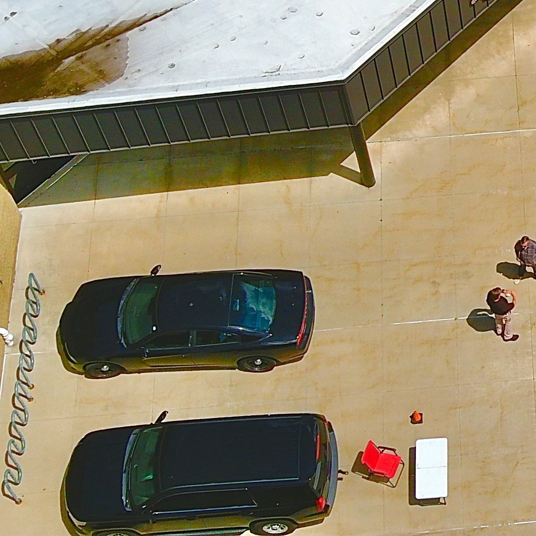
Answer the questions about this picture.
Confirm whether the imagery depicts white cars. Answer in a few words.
No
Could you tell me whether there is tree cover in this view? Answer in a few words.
No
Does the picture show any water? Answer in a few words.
No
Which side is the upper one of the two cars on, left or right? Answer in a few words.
left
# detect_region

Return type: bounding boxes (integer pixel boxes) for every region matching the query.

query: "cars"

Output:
[62,404,358,536]
[58,259,314,378]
